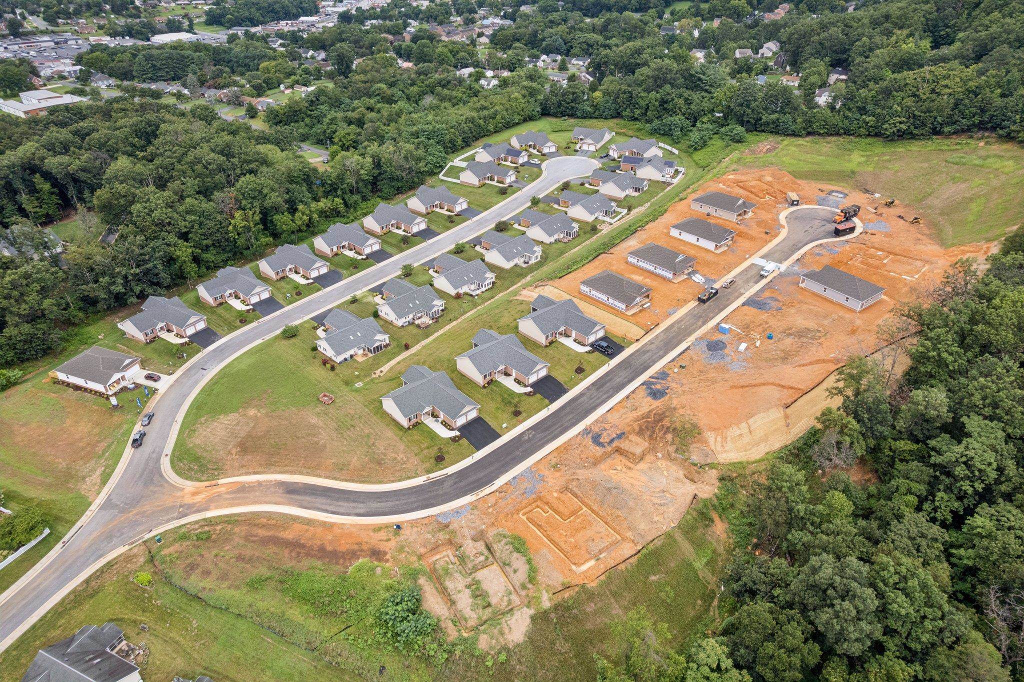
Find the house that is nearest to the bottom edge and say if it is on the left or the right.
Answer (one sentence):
It is on the left.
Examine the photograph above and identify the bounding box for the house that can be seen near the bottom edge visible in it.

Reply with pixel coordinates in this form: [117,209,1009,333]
[30,623,147,682]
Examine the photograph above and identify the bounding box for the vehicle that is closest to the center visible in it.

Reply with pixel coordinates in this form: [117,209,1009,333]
[593,339,616,352]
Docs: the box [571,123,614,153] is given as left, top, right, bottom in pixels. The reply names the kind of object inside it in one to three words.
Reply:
house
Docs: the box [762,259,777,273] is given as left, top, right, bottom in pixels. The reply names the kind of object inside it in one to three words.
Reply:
vehicle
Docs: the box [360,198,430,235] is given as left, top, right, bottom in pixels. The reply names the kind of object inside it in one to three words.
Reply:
house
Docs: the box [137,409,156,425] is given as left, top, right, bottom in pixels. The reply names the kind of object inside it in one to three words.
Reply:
car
